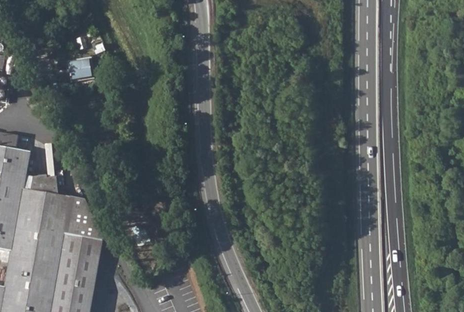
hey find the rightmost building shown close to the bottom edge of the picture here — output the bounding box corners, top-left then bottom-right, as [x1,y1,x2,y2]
[51,232,104,312]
